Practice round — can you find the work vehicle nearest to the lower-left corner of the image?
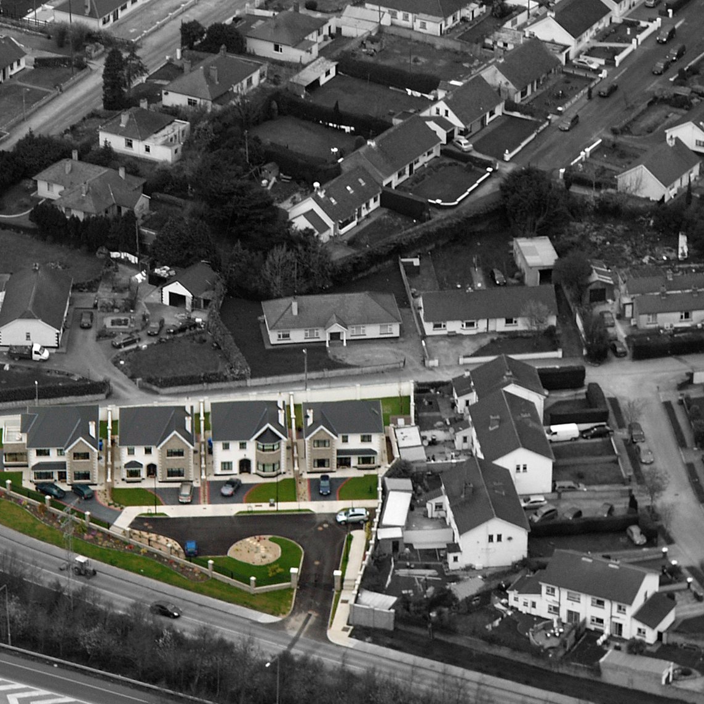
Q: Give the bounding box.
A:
[54,550,104,579]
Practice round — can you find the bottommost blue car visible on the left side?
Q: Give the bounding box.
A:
[184,541,198,559]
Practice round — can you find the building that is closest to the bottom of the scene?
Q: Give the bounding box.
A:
[599,651,668,692]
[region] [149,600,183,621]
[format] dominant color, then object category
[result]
black car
